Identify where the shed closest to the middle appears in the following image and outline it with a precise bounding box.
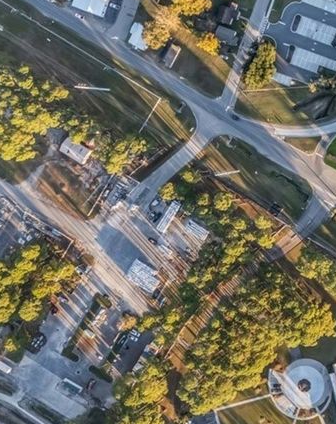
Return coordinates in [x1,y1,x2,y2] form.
[156,201,182,233]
